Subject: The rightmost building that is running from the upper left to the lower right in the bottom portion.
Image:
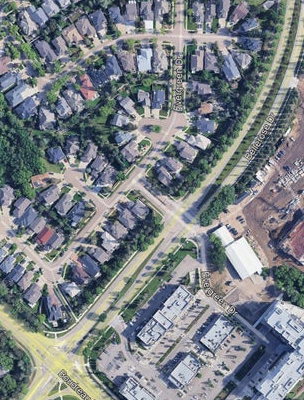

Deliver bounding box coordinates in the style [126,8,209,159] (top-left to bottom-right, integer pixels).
[212,224,263,279]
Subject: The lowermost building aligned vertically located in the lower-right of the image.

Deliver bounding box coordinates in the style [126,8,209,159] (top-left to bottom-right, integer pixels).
[253,295,304,400]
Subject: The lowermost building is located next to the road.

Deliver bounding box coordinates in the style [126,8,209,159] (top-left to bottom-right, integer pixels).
[119,378,156,400]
